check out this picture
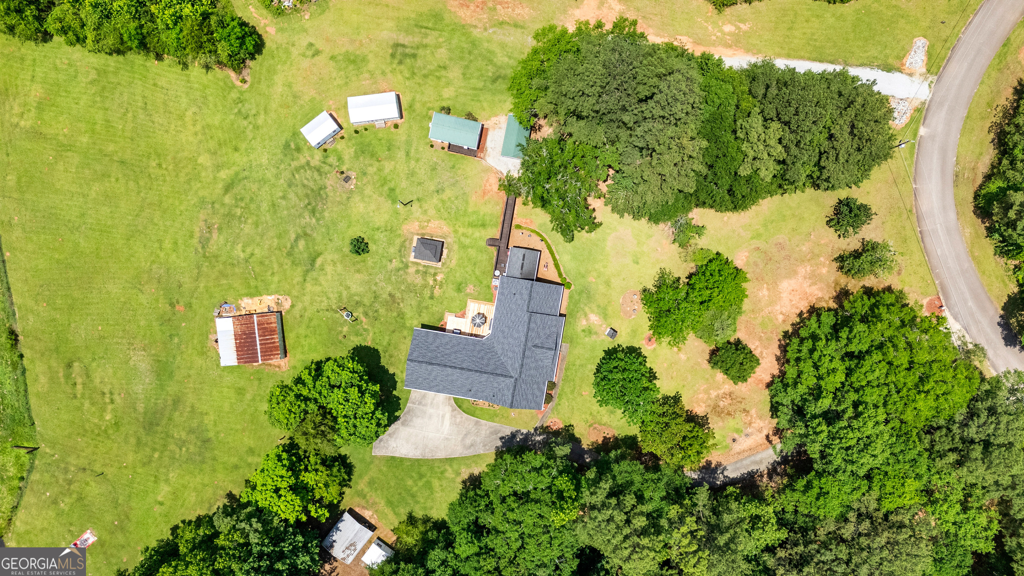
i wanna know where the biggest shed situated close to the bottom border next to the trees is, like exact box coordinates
[321,508,374,565]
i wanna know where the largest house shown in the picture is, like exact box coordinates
[404,246,566,411]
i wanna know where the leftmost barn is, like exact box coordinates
[216,313,288,366]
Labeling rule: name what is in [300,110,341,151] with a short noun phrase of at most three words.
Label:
shed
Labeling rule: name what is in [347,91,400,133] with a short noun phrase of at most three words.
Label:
shed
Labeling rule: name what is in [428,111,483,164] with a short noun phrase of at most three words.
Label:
house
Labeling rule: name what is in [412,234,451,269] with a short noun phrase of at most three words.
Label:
gazebo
